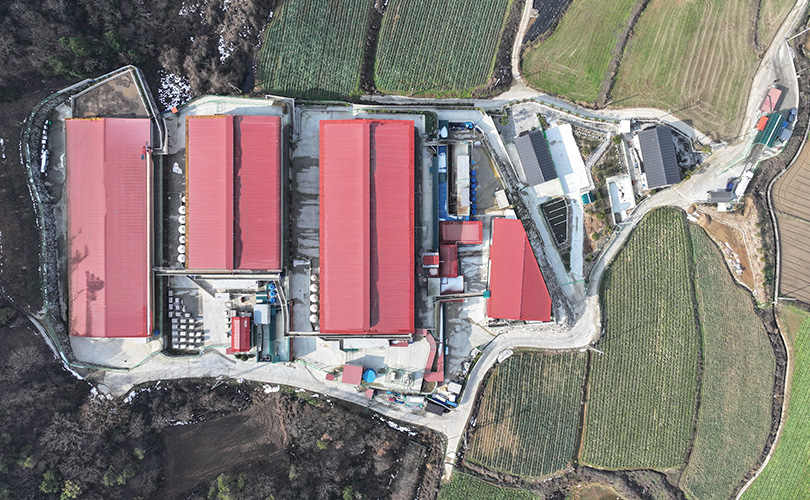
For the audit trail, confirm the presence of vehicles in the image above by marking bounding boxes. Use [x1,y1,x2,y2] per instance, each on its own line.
[723,177,734,191]
[731,165,754,201]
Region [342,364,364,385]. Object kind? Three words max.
shed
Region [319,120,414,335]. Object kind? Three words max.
shed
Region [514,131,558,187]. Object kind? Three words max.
house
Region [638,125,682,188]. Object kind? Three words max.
house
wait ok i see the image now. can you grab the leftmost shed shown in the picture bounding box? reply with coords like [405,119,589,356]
[65,118,153,338]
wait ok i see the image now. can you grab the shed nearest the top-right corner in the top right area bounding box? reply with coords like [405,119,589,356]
[756,87,782,113]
